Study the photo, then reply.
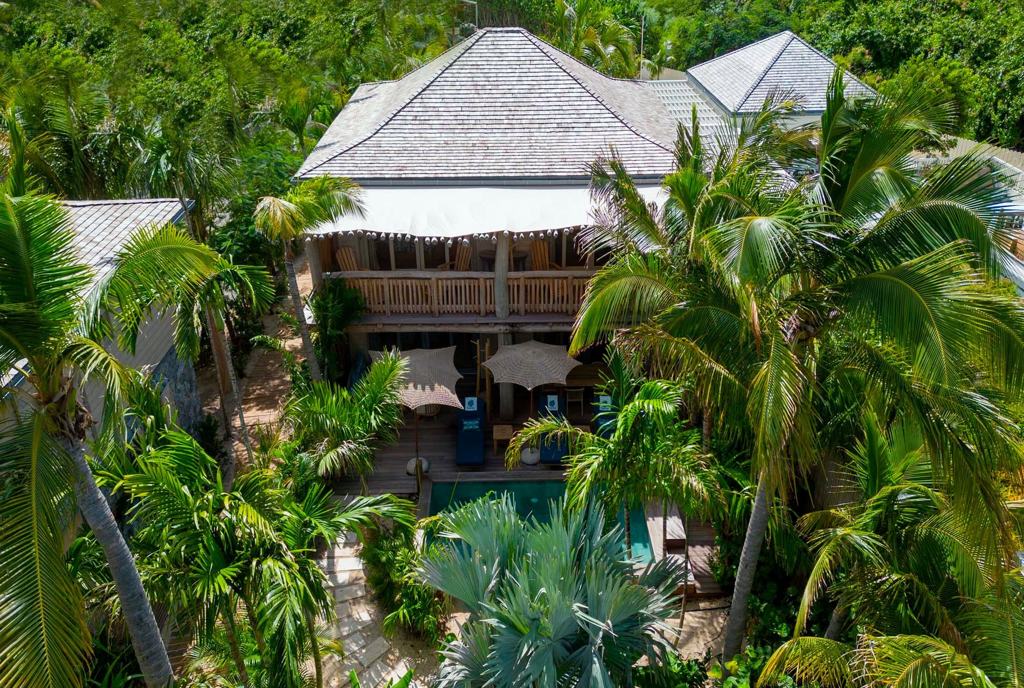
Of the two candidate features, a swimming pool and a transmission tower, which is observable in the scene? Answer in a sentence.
Of the two, only a swimming pool appears.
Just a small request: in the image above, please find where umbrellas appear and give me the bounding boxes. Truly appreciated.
[361,347,465,480]
[482,340,581,470]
